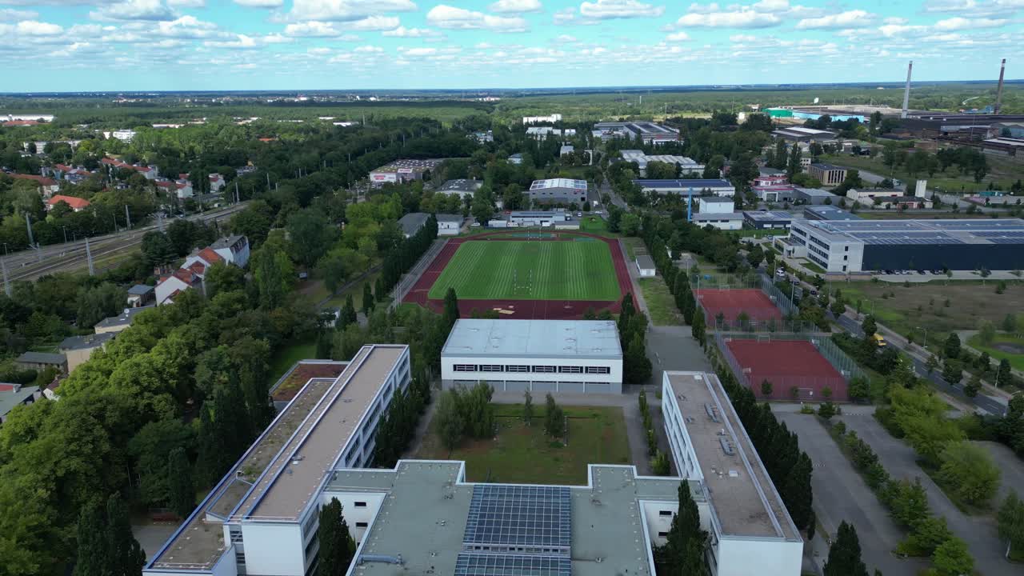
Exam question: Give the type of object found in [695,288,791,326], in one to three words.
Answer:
sports court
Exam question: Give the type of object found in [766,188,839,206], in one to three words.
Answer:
building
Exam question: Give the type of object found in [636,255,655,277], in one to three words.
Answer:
shed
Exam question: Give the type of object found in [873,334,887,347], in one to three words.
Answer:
vehicle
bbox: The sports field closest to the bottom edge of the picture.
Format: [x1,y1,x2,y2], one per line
[429,241,622,300]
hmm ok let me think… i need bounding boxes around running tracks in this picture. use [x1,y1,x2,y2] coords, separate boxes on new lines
[399,231,636,321]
